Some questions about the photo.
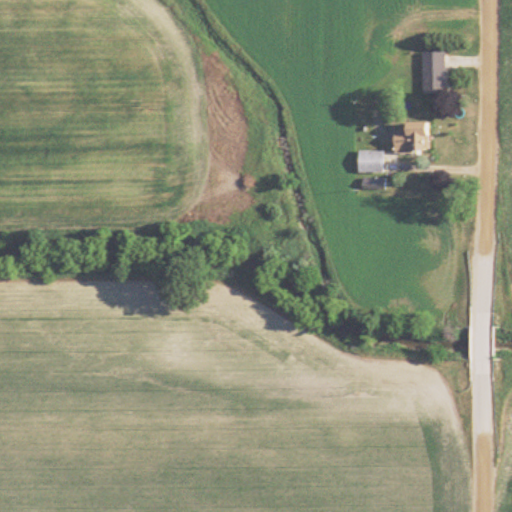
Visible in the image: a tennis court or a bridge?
bridge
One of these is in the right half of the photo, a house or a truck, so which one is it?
house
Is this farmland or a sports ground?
farmland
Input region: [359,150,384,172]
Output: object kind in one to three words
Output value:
shed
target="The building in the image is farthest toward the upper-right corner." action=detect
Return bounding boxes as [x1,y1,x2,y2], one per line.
[422,52,445,92]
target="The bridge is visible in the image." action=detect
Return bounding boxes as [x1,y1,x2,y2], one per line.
[464,327,496,359]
